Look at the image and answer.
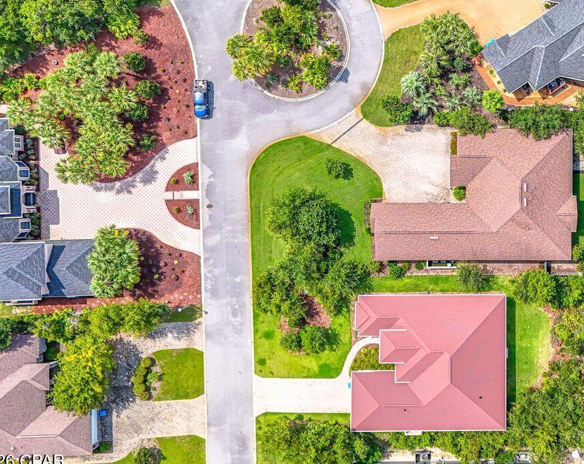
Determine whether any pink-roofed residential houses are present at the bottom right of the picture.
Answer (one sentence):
Yes, looking at the bottom right of the picture, one can make out a pink-roofed residential house.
